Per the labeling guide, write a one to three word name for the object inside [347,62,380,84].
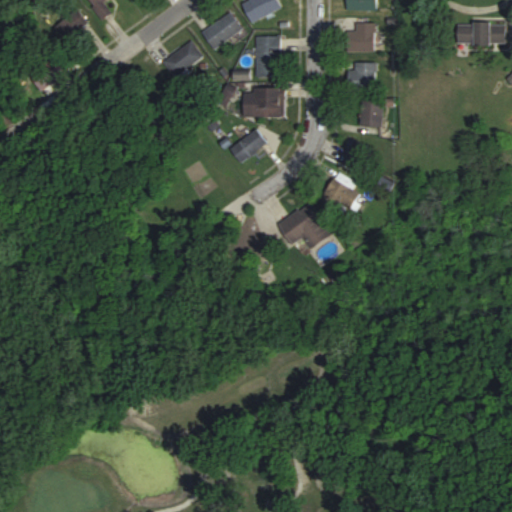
house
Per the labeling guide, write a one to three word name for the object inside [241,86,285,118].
house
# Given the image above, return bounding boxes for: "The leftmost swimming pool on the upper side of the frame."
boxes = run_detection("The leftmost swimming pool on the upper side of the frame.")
[240,54,254,68]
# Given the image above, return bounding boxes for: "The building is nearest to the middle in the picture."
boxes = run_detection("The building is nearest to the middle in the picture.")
[276,206,332,254]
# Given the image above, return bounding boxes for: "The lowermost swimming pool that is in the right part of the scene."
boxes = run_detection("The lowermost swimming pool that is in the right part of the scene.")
[310,234,346,267]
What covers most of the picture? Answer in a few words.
trees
